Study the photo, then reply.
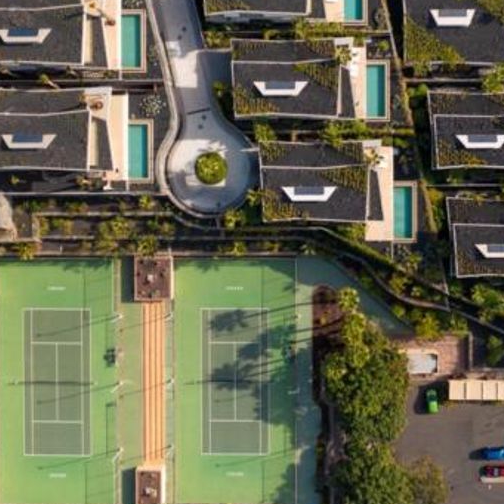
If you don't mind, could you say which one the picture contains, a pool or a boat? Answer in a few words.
pool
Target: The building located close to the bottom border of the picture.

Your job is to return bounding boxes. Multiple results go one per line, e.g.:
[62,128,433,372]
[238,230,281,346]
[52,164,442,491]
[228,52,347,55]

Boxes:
[135,466,164,504]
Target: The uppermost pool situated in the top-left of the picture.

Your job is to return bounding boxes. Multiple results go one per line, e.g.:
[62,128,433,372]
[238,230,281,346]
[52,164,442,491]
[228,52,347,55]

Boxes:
[121,9,146,72]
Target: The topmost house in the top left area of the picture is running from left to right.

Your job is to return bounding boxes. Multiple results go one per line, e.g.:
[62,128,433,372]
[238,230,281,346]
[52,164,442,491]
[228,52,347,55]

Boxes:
[0,0,164,78]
